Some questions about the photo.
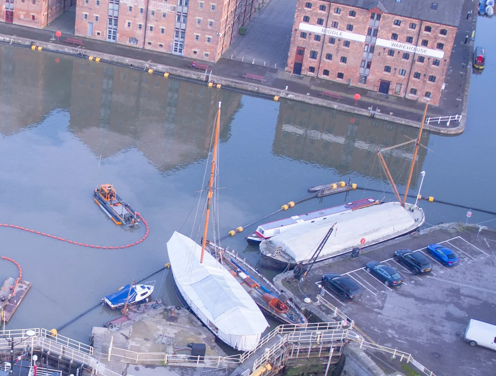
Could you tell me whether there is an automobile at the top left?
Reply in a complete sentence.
No, no automobile appears at the top left.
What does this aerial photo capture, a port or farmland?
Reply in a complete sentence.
This looks like a port.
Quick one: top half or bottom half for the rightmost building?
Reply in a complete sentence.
It is in the top half that the rightmost building appears.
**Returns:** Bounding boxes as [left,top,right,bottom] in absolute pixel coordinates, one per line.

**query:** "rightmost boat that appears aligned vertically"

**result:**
[473,43,486,71]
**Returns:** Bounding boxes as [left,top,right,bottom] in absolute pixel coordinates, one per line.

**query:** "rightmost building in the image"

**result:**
[285,0,471,106]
